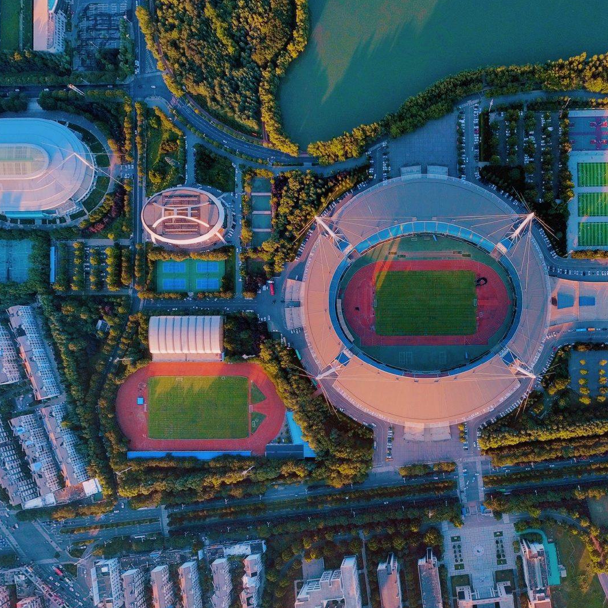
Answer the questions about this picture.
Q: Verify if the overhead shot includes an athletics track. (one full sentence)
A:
Yes, you can see an athletics track in this photo.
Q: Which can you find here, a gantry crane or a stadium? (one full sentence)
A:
It is a stadium that can be seen here.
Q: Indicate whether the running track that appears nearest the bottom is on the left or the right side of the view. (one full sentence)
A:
The running track that appears nearest the bottom sits on the left side.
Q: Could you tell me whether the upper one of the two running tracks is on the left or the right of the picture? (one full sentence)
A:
The upper one of the two running tracks appears in the right half of the scene.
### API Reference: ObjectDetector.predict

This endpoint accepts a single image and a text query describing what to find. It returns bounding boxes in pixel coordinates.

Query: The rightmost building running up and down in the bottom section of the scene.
[523,537,550,601]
